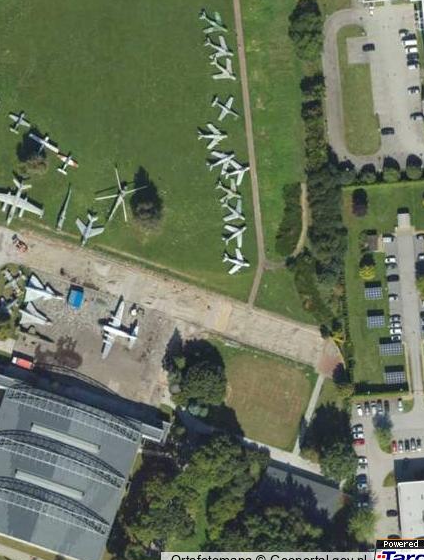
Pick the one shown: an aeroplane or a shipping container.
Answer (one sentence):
It is an aeroplane that can be seen here.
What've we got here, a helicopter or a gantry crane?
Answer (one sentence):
It is a helicopter that can be seen here.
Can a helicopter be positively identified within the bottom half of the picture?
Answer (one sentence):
No, no helicopter can be made out within the bottom half of the picture.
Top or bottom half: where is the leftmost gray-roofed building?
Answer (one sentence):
The leftmost gray-roofed building is in the bottom half of the image.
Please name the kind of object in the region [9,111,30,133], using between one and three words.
airplane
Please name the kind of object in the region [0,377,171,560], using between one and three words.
building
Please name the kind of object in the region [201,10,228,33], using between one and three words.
airplane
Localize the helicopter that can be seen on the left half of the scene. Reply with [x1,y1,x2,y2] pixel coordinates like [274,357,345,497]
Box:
[95,167,146,221]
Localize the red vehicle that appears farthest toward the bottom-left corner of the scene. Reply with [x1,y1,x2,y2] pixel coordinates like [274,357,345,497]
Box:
[13,357,35,371]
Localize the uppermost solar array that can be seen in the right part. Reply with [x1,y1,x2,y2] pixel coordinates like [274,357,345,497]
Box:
[365,287,382,300]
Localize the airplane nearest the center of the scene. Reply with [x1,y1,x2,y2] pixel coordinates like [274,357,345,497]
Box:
[223,248,250,274]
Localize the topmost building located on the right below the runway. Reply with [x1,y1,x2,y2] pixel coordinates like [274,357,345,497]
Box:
[254,464,344,518]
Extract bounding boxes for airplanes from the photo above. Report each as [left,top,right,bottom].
[223,161,250,186]
[220,198,245,221]
[215,178,241,202]
[58,184,73,231]
[212,96,239,121]
[26,278,66,307]
[197,123,228,150]
[76,212,104,246]
[207,151,235,175]
[223,226,246,248]
[0,182,45,225]
[209,56,236,80]
[103,301,140,361]
[18,326,53,340]
[201,10,228,33]
[56,154,77,173]
[18,304,52,327]
[203,34,234,59]
[1,265,27,291]
[29,133,60,156]
[223,248,250,274]
[9,111,30,133]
